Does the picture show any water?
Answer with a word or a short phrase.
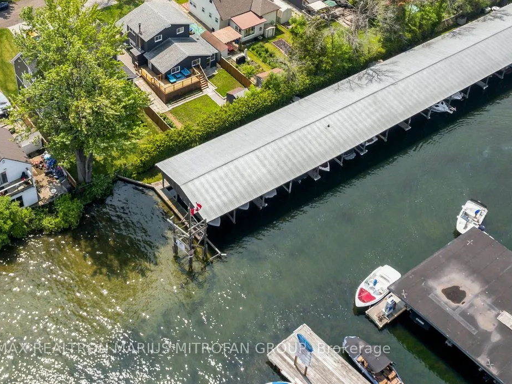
Yes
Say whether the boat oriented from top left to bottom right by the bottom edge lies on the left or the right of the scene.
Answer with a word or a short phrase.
right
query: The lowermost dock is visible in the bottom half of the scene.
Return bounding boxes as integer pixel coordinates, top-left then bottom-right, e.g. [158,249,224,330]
[262,323,362,384]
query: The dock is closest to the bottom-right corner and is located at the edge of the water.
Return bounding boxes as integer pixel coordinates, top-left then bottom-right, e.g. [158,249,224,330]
[365,293,409,330]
